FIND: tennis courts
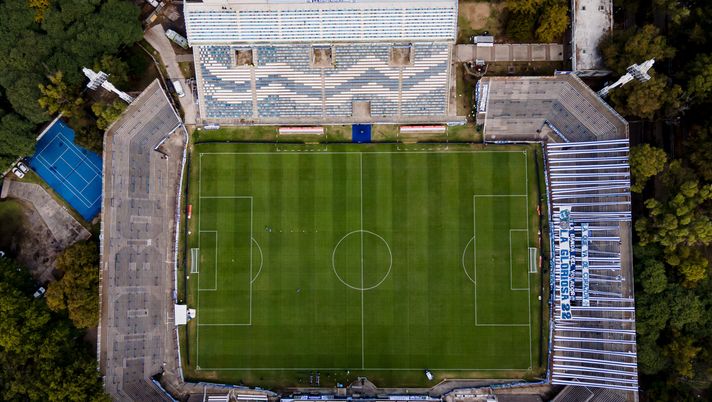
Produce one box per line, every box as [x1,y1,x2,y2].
[22,115,102,225]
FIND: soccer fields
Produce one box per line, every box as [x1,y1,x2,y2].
[195,127,534,373]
